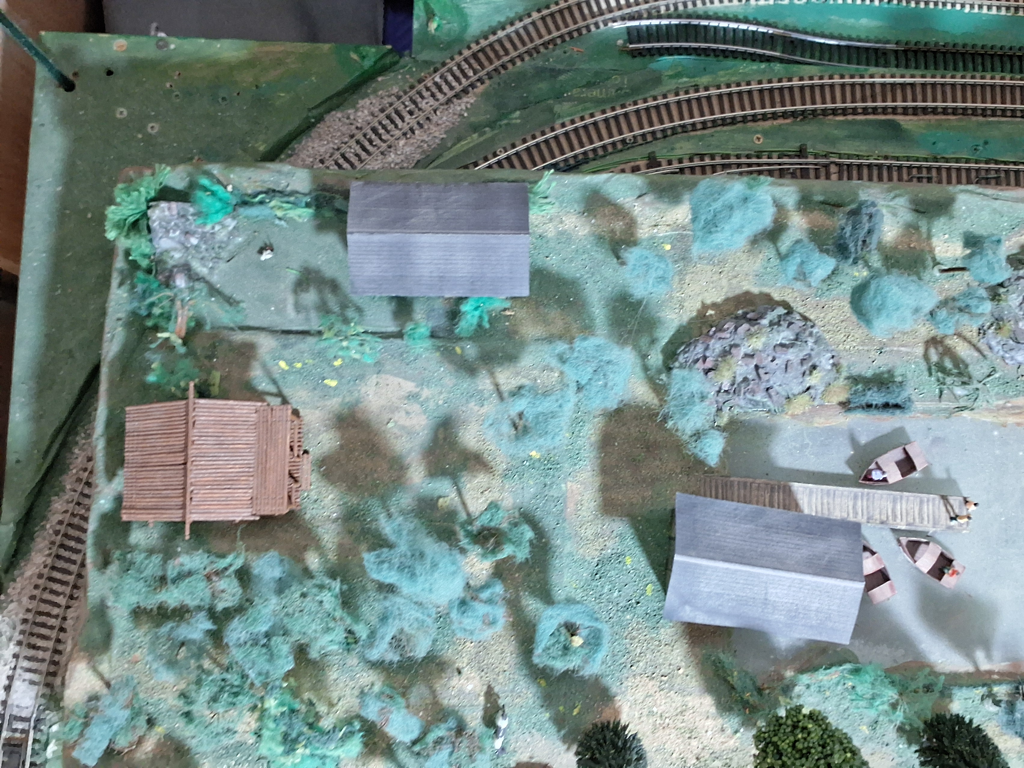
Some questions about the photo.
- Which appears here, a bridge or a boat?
boat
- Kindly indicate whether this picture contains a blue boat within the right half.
No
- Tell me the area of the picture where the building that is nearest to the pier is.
bottom right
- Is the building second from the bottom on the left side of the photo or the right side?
left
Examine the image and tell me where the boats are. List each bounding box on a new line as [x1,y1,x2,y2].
[899,537,966,588]
[859,442,927,484]
[861,541,895,603]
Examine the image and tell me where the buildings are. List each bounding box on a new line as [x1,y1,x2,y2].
[347,182,530,297]
[664,493,865,645]
[121,382,310,539]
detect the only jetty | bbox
[694,474,970,532]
